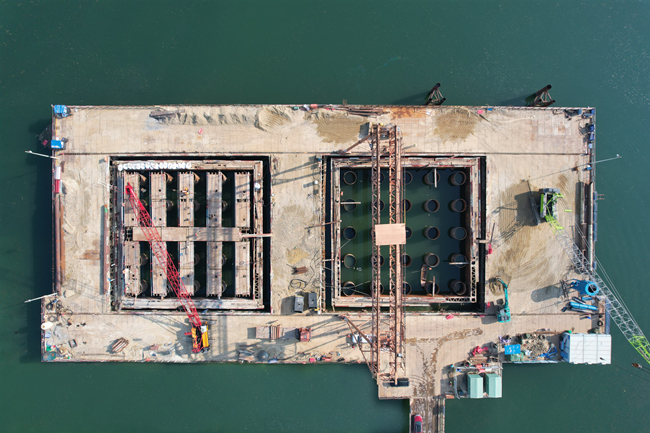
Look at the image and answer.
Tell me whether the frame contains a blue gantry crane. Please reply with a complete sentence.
No, there's no blue gantry crane here.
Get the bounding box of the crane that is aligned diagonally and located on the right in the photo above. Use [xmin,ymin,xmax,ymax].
[528,185,650,373]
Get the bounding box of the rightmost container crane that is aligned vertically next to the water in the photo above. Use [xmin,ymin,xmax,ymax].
[335,124,408,385]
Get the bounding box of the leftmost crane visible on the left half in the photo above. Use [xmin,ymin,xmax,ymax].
[122,179,216,358]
